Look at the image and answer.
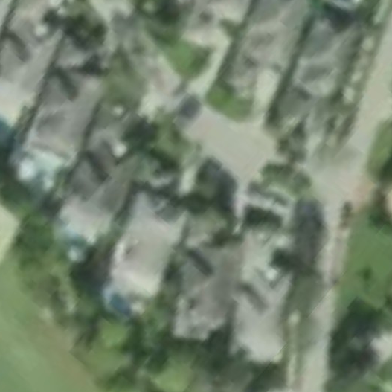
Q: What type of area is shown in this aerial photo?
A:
residential area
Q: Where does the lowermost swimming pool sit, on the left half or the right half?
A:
left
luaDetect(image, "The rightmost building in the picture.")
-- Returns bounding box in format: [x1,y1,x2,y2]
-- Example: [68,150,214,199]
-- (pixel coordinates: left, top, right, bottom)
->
[278,2,371,130]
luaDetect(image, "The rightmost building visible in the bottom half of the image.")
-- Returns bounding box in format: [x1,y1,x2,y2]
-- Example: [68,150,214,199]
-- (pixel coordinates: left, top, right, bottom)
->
[230,257,295,362]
